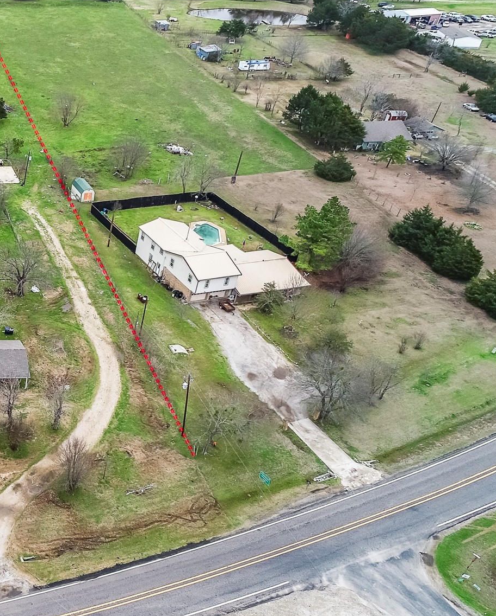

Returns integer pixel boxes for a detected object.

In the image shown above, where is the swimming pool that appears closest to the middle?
[188,219,230,246]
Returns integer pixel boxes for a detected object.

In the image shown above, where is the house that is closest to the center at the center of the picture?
[136,218,308,304]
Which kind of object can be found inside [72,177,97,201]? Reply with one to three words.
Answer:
shed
